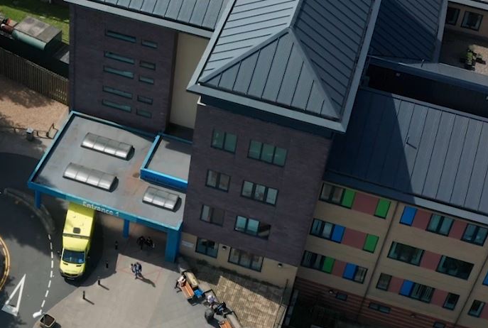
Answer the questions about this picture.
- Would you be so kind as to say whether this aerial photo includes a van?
Yes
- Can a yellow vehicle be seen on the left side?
Yes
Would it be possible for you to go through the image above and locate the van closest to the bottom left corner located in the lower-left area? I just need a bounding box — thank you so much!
[59,205,98,277]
